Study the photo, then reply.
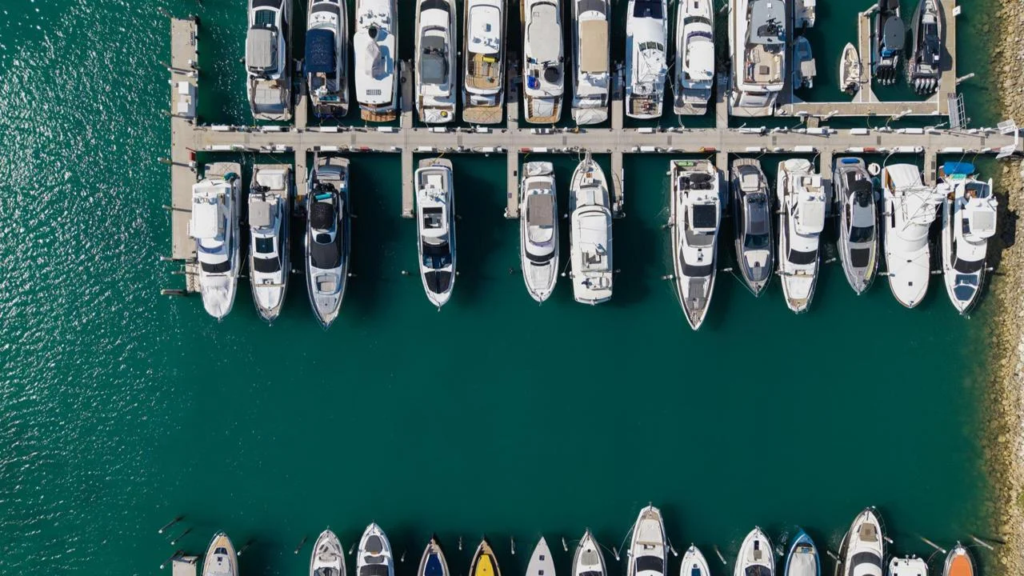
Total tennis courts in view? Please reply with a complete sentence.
No tennis courts are visible.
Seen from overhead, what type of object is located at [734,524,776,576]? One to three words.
boat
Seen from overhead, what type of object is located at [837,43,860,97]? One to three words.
boat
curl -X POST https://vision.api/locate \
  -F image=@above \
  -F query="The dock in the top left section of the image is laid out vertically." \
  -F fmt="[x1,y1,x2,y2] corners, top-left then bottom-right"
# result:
[171,18,199,261]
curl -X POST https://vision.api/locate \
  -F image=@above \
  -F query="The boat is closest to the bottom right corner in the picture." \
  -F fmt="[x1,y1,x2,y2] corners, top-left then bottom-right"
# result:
[938,542,976,576]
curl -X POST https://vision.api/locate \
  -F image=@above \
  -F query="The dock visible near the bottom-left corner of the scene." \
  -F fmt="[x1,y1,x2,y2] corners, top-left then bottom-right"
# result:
[167,549,200,576]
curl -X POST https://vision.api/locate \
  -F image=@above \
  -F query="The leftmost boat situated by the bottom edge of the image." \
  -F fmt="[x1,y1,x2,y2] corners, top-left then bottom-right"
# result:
[200,533,239,576]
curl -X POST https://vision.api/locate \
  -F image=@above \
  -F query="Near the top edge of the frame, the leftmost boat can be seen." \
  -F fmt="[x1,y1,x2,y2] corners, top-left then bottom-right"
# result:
[243,0,293,121]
